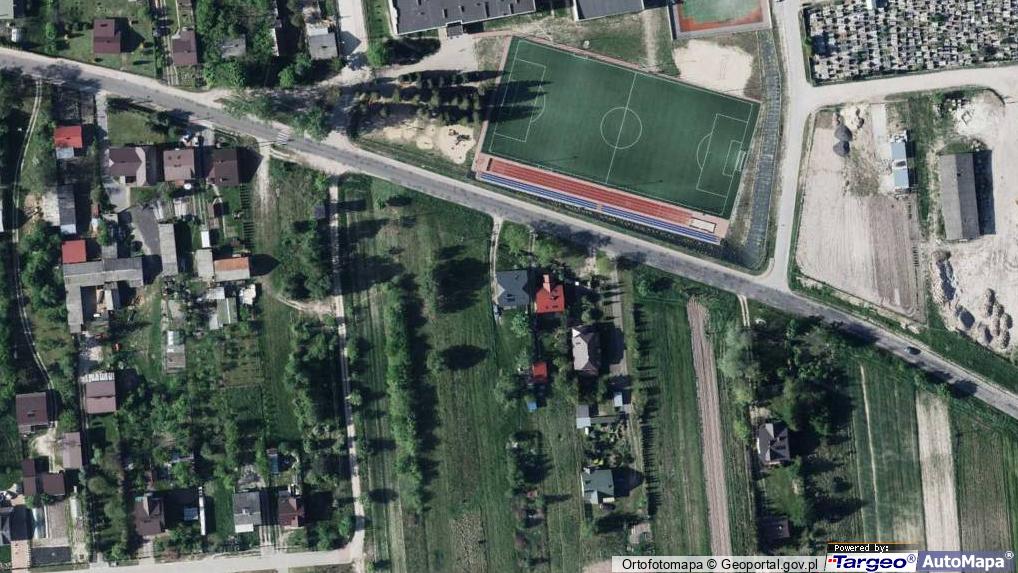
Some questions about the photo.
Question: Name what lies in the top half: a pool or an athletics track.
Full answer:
The one visible in the top half is an athletics track.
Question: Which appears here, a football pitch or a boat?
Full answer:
I can see a football pitch in this picture.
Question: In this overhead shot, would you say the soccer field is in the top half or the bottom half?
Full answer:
You can find the soccer field in the top half.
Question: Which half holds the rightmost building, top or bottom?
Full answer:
The top half of the photo is where the rightmost building is.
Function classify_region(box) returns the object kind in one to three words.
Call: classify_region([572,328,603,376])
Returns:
house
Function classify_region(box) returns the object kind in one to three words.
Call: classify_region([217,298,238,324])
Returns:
greenhouse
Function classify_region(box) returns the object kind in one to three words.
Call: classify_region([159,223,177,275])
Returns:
shed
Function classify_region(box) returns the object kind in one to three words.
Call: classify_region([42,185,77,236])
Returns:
barn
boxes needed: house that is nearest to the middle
[495,271,532,309]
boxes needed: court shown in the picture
[673,0,771,38]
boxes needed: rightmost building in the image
[939,152,979,243]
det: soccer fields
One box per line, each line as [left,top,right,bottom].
[481,36,760,219]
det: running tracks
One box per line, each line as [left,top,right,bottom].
[488,158,691,223]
